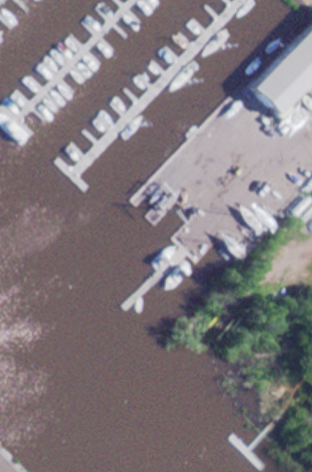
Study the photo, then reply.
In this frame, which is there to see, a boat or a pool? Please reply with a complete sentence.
There is a boat in the scene.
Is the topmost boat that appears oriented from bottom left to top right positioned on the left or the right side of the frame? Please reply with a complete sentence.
The topmost boat that appears oriented from bottom left to top right is on the right side of the image.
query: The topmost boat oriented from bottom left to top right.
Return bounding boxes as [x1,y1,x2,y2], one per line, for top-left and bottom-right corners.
[234,0,256,20]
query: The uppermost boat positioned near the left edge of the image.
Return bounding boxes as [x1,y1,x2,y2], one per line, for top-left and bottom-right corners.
[0,7,16,24]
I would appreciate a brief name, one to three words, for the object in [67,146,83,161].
boat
